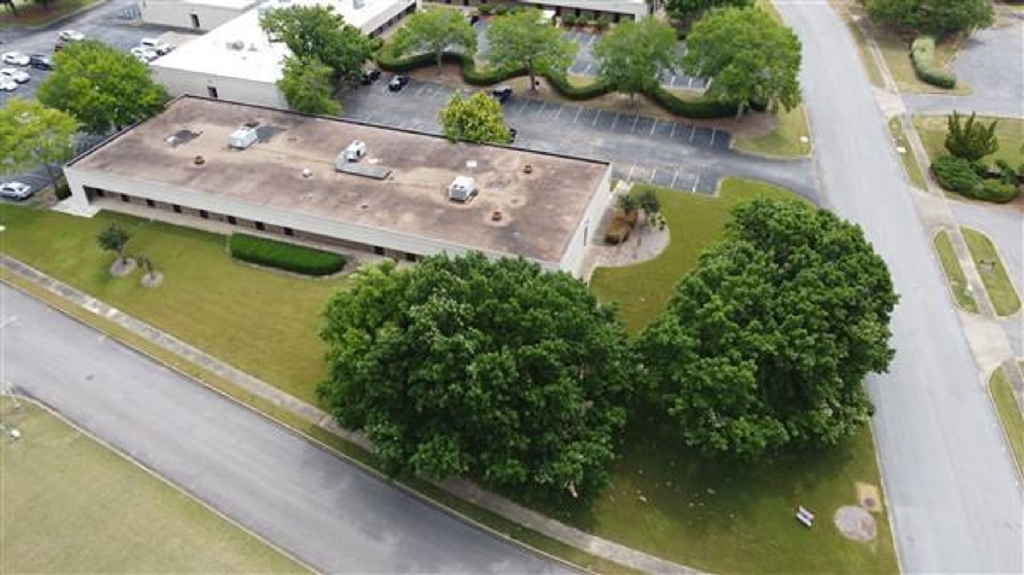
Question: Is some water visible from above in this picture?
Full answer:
No, the scene doesn't show any water.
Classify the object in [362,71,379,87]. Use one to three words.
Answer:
car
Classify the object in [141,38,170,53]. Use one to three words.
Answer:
car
